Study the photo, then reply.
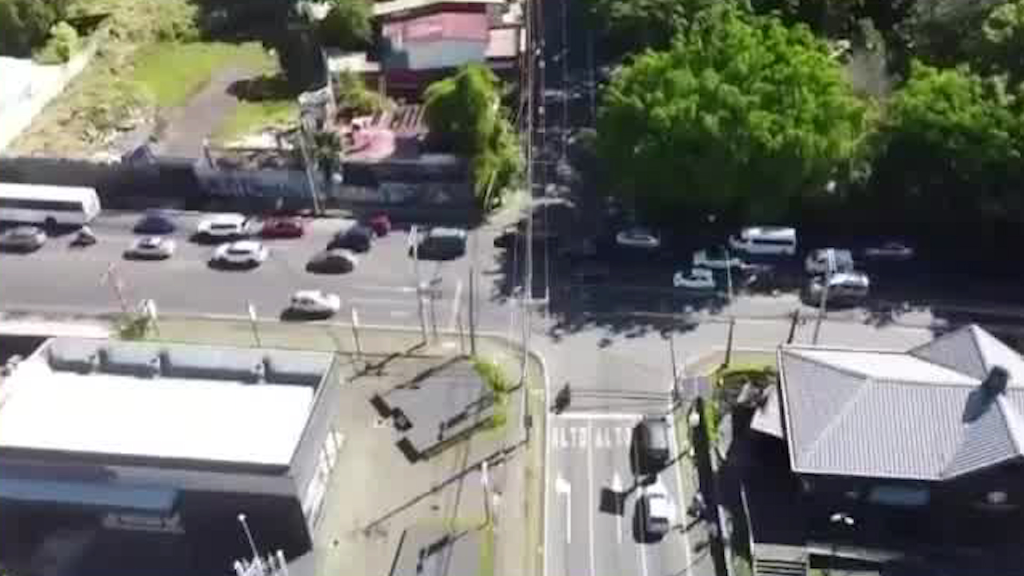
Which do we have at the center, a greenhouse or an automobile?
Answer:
automobile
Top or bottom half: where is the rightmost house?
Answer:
bottom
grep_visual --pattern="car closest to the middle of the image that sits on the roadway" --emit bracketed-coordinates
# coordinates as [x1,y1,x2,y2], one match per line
[488,226,541,252]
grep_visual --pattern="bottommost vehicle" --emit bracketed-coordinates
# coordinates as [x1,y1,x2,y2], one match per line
[638,475,674,542]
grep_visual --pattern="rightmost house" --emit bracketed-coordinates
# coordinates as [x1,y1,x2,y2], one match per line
[774,325,1024,530]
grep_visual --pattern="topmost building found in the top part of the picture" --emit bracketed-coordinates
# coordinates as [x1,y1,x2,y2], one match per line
[327,0,528,101]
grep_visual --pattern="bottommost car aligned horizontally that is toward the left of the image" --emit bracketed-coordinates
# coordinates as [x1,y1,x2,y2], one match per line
[281,289,344,319]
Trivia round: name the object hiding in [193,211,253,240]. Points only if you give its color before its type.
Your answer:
white car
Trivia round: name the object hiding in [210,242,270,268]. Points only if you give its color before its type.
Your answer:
white car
